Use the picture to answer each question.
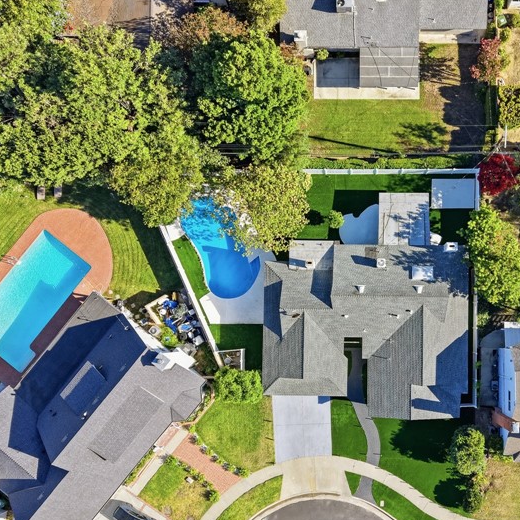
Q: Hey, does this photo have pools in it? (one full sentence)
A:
Yes, a pool is visible in the scene.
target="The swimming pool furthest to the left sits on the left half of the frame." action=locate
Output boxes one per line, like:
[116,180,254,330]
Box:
[0,229,92,373]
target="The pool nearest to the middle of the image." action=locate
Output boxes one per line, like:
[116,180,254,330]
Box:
[179,195,262,300]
